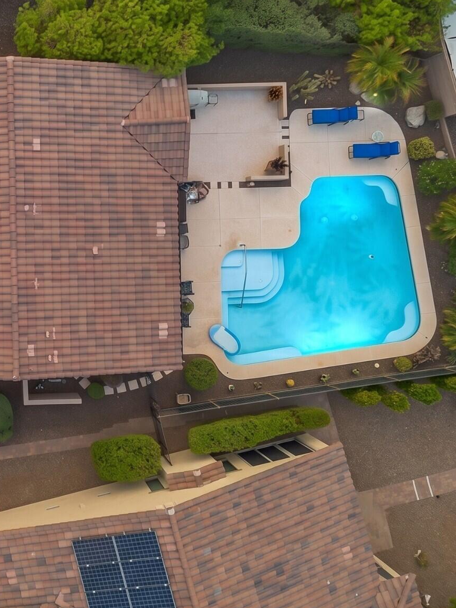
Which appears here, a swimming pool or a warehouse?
swimming pool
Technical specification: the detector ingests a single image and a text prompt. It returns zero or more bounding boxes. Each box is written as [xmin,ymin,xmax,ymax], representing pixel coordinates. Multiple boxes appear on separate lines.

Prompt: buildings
[0,431,433,608]
[0,54,192,385]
